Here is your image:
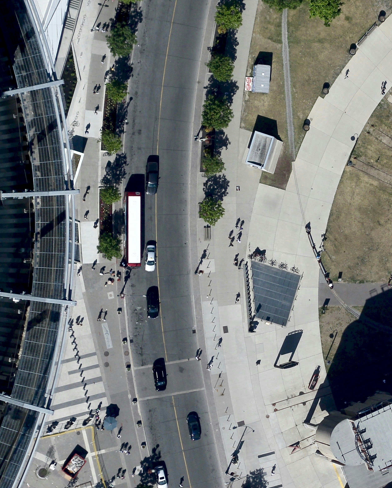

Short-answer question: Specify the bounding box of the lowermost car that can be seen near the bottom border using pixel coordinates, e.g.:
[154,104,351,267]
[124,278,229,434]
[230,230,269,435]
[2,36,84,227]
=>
[154,465,168,488]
